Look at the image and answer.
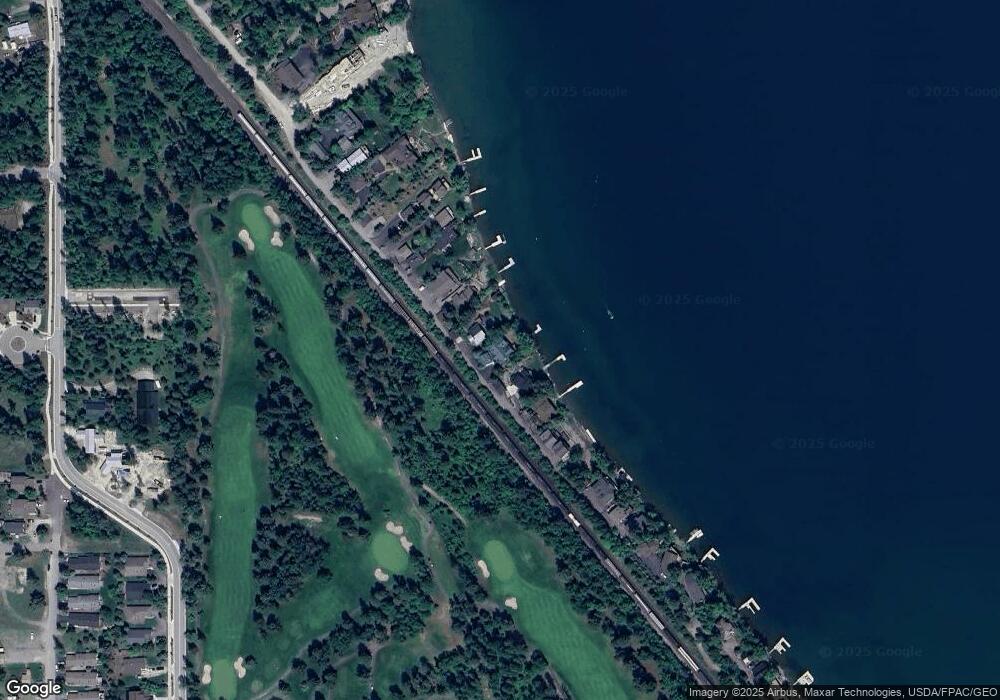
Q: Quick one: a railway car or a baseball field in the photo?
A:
railway car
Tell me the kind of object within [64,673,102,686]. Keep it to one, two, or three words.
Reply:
house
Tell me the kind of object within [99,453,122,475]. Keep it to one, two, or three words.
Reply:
barn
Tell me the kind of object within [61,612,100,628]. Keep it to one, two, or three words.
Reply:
house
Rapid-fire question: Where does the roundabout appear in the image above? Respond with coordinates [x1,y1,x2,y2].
[0,325,36,362]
